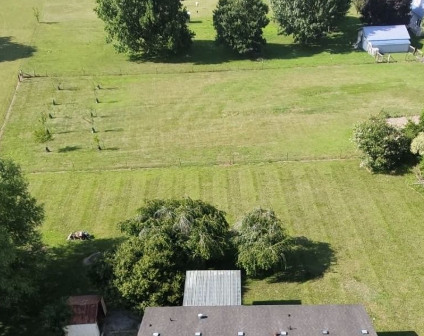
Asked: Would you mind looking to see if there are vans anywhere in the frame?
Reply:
No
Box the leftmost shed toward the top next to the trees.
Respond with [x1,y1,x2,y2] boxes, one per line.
[364,19,417,52]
